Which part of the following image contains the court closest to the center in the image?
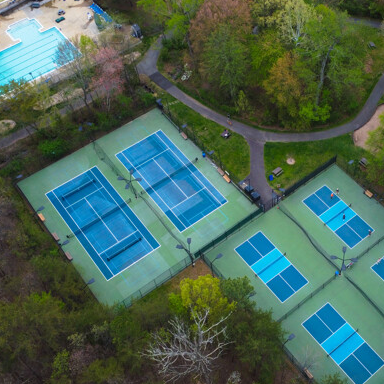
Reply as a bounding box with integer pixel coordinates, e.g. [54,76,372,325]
[115,128,228,235]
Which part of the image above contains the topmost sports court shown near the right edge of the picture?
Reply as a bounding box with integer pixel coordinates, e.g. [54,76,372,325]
[303,185,374,248]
